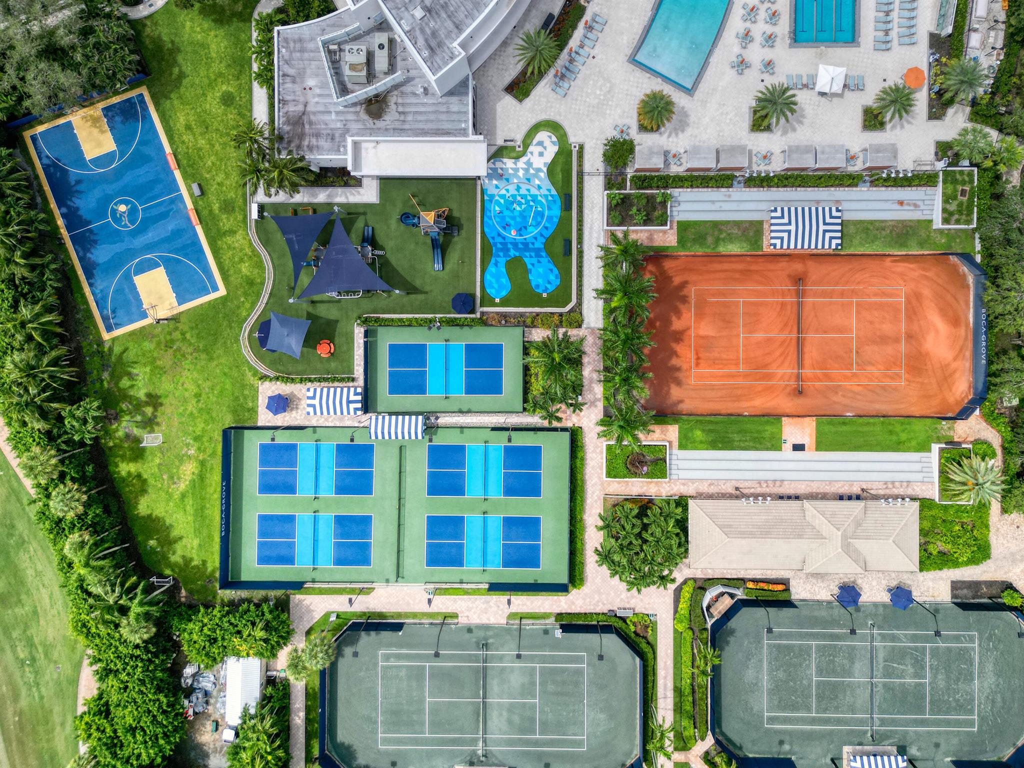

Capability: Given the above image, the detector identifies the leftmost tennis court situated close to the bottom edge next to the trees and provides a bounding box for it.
[327,623,639,768]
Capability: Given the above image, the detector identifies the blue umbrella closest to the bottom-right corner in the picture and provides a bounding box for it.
[888,586,914,611]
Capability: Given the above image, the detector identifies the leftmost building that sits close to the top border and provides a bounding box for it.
[275,0,531,180]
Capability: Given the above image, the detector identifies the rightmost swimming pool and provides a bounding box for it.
[789,0,861,48]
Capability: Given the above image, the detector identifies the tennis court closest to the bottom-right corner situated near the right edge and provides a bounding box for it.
[716,598,1024,768]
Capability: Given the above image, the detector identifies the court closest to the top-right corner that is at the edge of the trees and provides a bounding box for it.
[641,254,973,416]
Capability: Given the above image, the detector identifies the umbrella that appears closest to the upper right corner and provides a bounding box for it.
[901,66,926,88]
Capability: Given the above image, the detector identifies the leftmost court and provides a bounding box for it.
[24,85,226,340]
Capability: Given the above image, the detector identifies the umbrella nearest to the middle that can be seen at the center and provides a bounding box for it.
[452,292,473,314]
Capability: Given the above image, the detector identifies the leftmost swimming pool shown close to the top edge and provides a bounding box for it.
[628,0,734,97]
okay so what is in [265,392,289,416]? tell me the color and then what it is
blue umbrella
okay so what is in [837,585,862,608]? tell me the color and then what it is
blue umbrella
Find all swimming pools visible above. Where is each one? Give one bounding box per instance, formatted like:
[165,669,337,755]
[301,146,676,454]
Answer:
[628,0,734,97]
[789,0,861,48]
